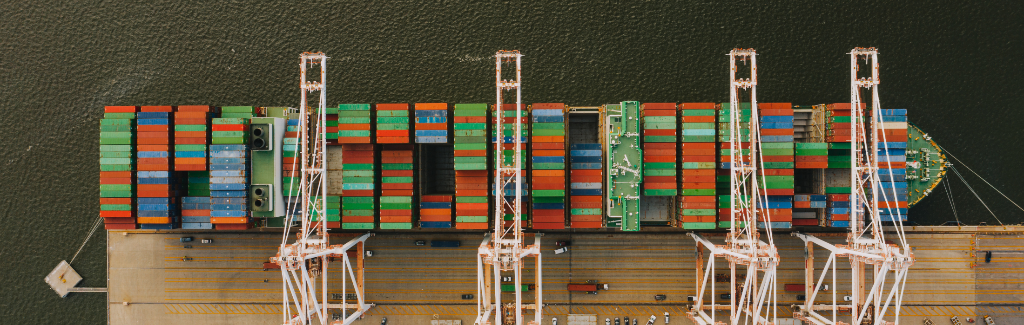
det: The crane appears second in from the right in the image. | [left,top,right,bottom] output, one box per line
[685,48,783,325]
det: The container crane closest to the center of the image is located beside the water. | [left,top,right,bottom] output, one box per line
[474,50,545,325]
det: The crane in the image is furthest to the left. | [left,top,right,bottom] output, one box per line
[273,51,374,325]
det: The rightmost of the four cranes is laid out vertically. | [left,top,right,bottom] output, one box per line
[789,47,915,325]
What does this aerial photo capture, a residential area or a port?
port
